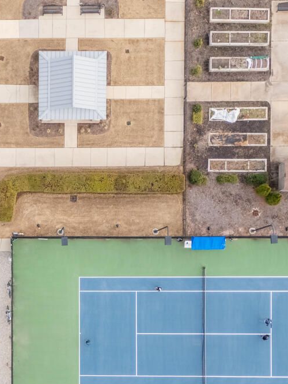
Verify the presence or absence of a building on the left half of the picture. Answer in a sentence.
Yes, a building appears on the left half of the picture.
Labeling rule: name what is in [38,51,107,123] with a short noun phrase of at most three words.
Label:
building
